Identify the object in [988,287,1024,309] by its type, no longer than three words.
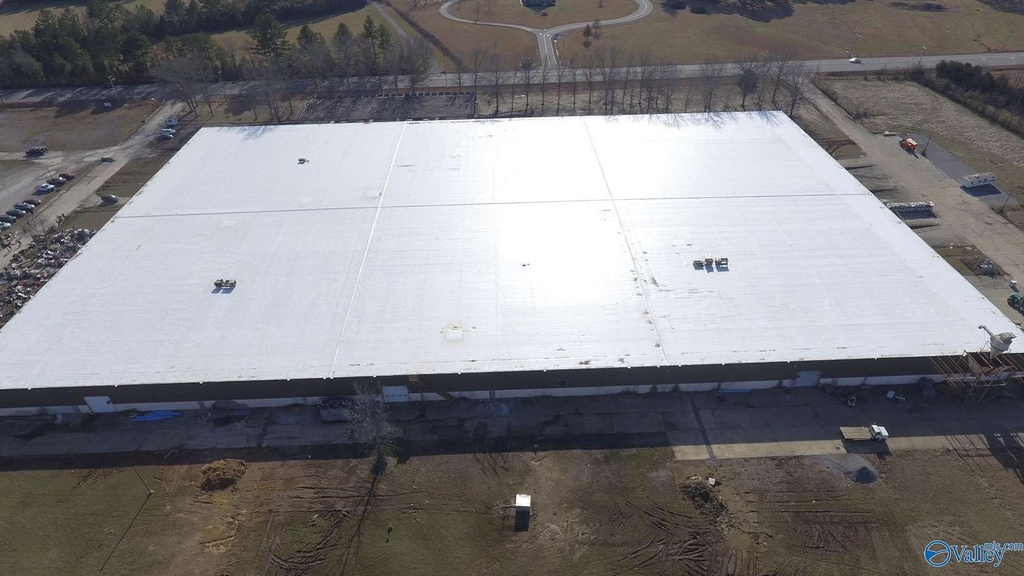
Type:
work vehicle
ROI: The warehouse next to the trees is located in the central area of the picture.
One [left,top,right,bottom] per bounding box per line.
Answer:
[0,110,1024,416]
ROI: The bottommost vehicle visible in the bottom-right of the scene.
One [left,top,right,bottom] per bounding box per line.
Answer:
[838,422,894,446]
